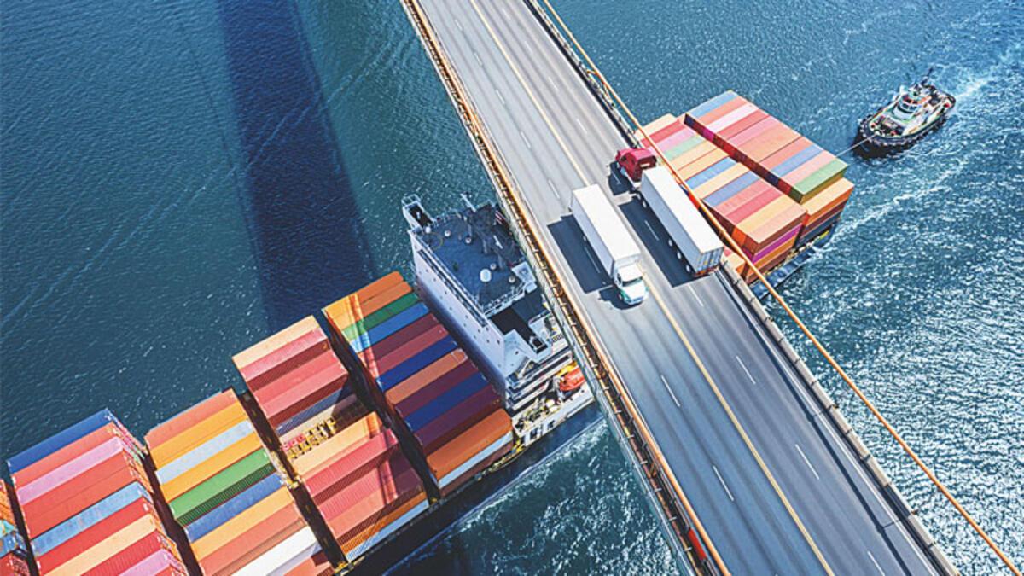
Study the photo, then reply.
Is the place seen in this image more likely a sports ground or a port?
port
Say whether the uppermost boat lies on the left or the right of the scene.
right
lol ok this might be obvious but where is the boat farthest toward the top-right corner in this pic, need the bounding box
[858,62,963,160]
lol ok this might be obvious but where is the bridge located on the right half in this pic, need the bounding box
[395,0,1022,576]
